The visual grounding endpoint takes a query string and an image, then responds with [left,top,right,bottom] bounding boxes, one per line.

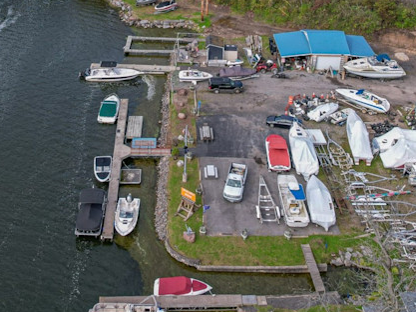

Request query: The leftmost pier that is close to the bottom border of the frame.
[98,294,244,311]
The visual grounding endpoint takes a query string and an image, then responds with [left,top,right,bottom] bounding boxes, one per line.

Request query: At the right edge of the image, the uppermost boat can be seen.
[344,57,406,84]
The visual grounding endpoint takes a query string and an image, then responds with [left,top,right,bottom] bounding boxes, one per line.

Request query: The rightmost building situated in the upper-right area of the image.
[272,30,376,72]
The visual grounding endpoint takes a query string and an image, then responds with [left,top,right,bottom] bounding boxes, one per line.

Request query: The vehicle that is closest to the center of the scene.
[221,159,246,202]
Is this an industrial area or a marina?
marina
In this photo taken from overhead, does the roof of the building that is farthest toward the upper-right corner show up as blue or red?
blue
